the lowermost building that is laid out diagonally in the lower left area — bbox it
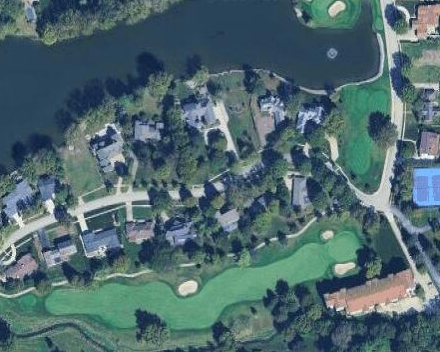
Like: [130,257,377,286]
[5,251,41,280]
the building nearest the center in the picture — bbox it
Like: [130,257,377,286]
[216,210,241,233]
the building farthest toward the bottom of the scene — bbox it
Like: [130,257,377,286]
[325,267,419,313]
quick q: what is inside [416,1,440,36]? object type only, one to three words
house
